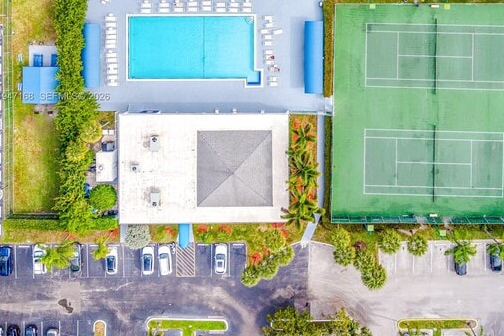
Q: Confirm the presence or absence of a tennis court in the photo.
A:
Yes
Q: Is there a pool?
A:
Yes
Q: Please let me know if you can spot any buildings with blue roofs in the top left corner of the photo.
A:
Yes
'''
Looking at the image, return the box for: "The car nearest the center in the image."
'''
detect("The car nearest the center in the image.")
[215,243,228,272]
